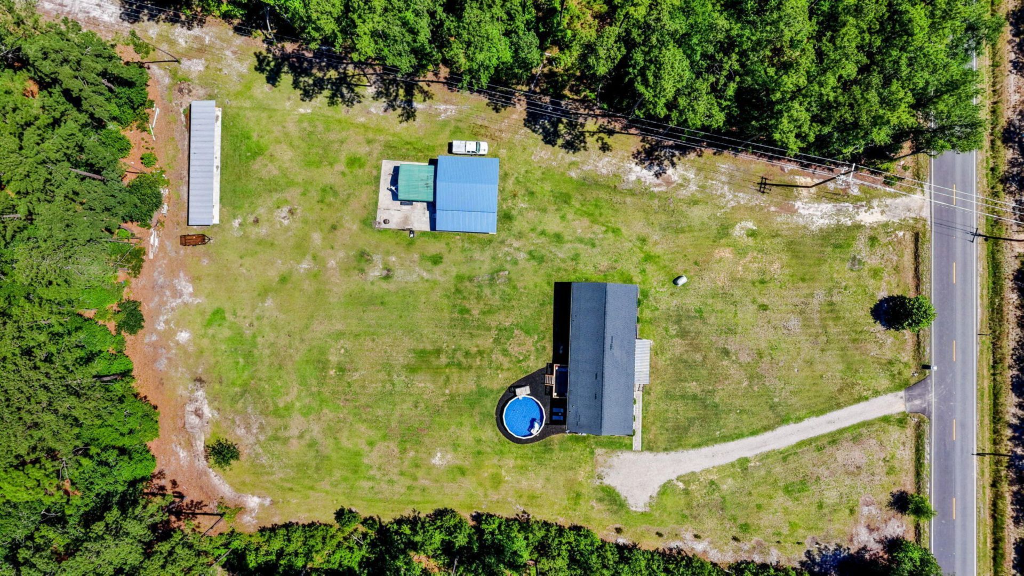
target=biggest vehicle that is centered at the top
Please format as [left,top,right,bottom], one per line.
[450,140,488,156]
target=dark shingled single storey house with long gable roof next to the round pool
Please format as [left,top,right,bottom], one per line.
[566,282,639,436]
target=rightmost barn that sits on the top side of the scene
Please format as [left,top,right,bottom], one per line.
[436,155,499,235]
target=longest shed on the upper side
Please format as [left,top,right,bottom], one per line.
[188,100,223,226]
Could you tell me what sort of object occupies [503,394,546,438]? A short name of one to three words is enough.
swimming pool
